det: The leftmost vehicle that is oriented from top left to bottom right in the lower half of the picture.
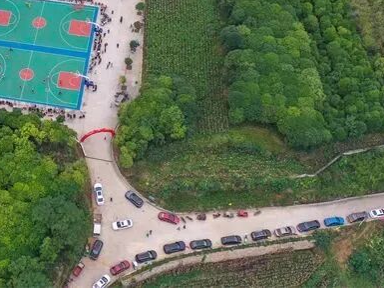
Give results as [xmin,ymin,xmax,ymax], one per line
[124,189,144,207]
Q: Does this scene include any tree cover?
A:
Yes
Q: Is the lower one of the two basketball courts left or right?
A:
left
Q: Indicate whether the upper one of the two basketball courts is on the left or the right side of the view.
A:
left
